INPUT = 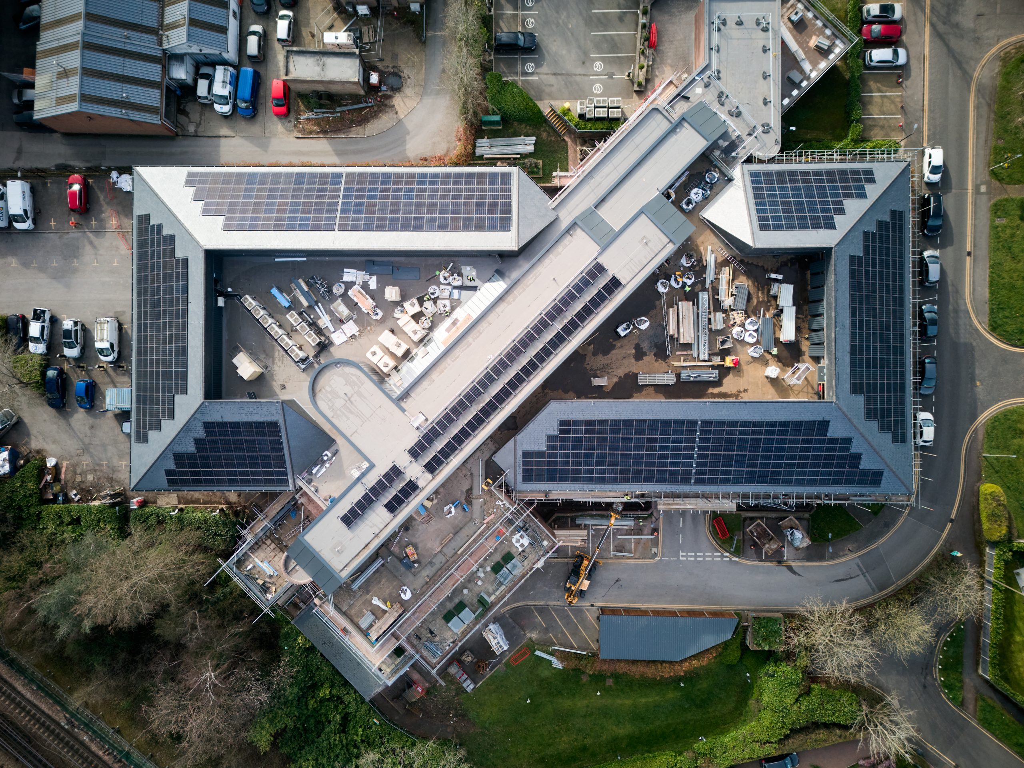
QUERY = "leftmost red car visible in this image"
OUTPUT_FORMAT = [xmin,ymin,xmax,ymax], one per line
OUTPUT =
[65,174,91,215]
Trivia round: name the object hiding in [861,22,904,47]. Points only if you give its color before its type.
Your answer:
red car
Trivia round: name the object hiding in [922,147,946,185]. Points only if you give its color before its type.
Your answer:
white car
